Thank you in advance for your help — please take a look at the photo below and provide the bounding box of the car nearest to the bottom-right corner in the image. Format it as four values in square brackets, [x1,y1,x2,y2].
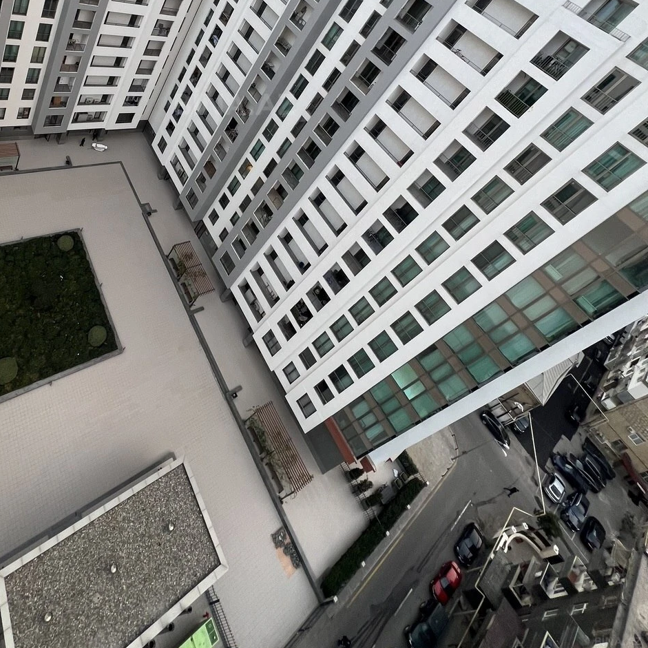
[580,520,609,559]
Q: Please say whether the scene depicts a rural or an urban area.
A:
urban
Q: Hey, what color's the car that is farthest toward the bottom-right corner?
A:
black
